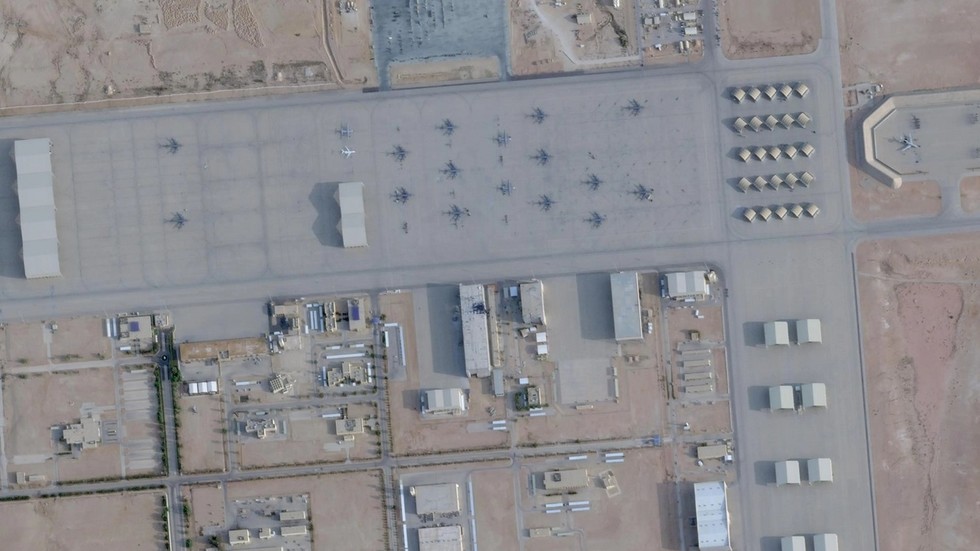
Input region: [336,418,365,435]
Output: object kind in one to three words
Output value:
building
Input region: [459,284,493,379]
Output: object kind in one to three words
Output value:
hangar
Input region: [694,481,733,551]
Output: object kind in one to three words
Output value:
hangar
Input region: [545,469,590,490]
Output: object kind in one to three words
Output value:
building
